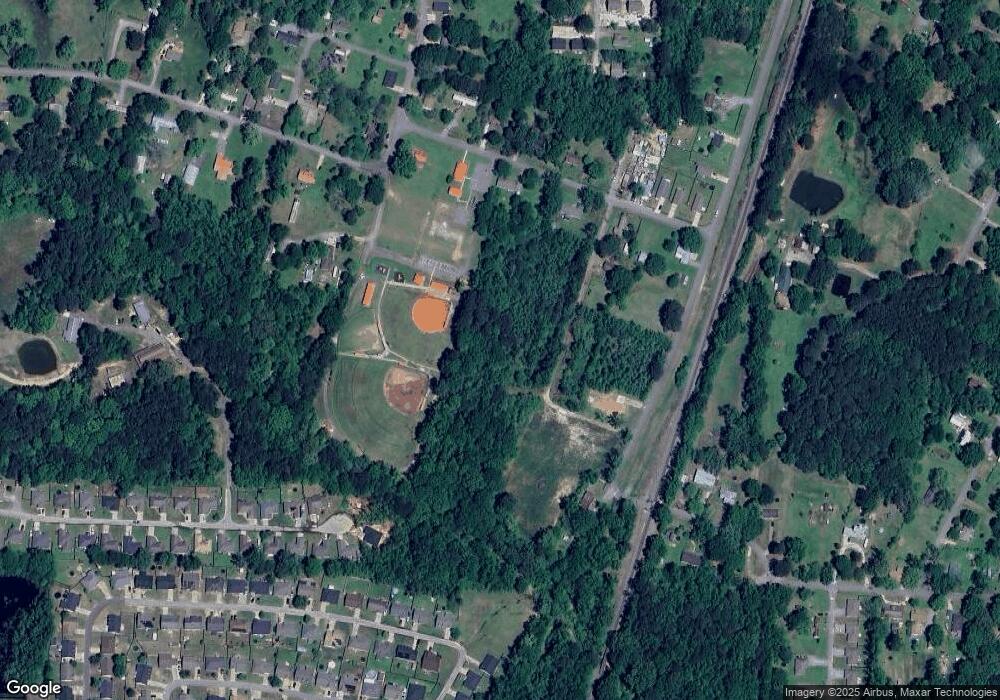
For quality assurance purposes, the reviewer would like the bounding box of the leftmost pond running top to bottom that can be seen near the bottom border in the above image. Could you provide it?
[0,576,38,674]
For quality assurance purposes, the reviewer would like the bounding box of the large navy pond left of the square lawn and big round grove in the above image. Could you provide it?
[791,170,843,213]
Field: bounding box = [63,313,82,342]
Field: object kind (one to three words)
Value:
barn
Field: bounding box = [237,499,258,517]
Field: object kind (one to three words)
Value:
house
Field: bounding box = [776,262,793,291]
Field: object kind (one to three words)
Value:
barn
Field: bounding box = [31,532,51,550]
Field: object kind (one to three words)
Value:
house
